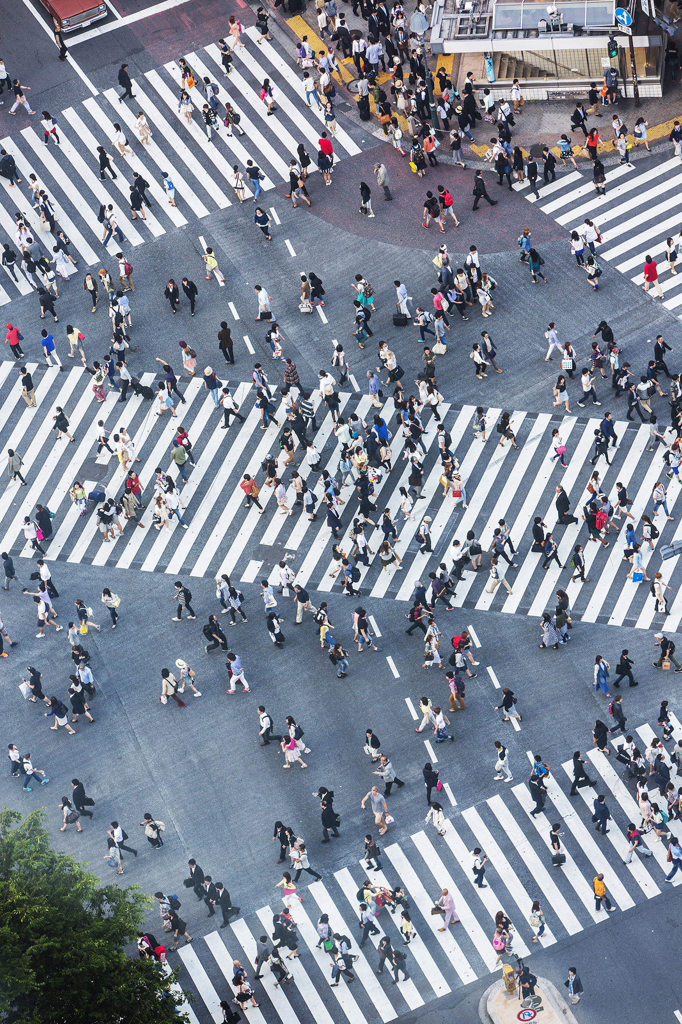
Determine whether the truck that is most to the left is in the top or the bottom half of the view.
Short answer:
top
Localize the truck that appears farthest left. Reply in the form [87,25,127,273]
[43,0,107,33]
